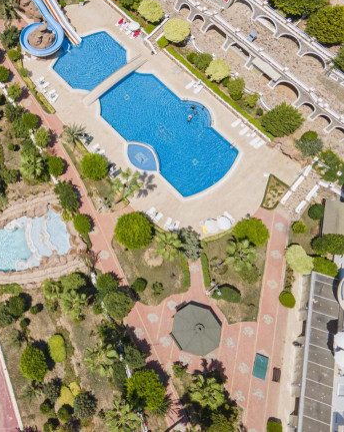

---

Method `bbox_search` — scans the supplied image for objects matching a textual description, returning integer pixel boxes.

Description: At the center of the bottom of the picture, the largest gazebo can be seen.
[168,305,222,354]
